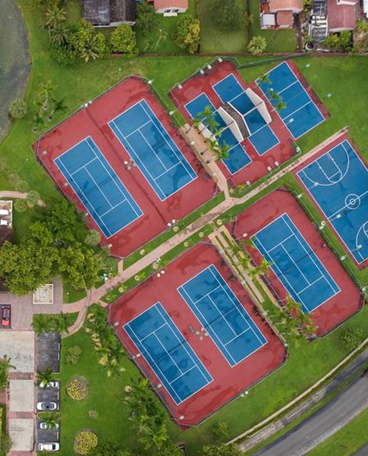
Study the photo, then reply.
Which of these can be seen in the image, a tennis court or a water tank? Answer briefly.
tennis court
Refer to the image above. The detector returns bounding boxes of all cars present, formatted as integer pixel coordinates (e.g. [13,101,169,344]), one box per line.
[37,403,57,410]
[39,380,57,387]
[39,423,58,430]
[39,443,58,451]
[1,306,9,325]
